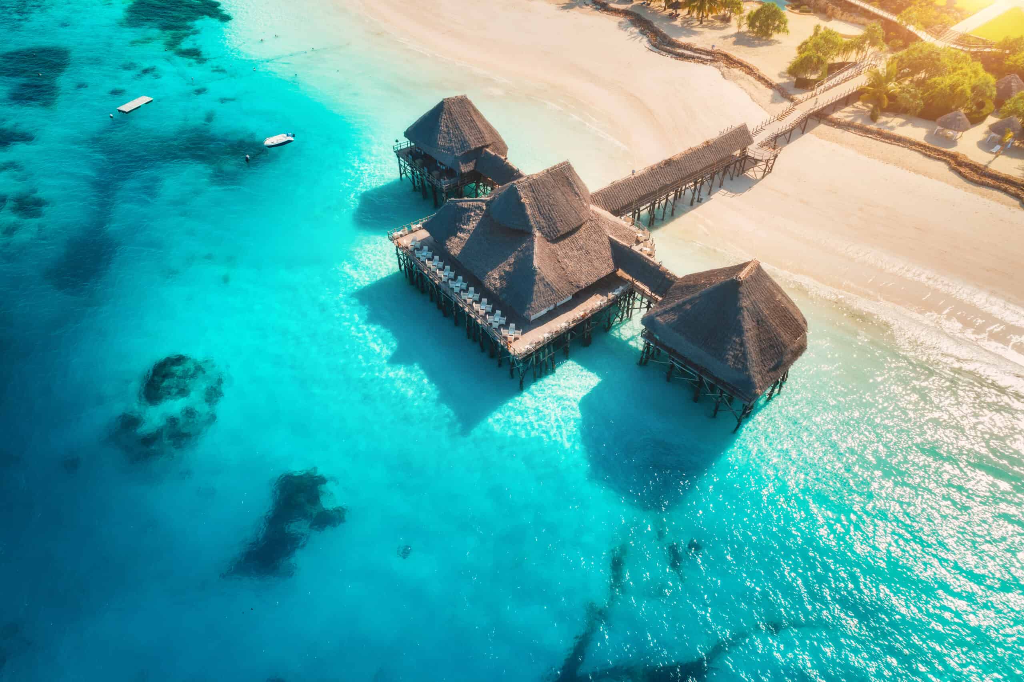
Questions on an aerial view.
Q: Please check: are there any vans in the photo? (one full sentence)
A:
No, there isn't any van down there.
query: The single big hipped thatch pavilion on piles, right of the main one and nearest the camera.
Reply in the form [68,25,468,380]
[637,259,813,444]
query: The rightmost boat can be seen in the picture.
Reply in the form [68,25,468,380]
[264,130,297,149]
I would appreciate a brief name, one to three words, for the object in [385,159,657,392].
building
